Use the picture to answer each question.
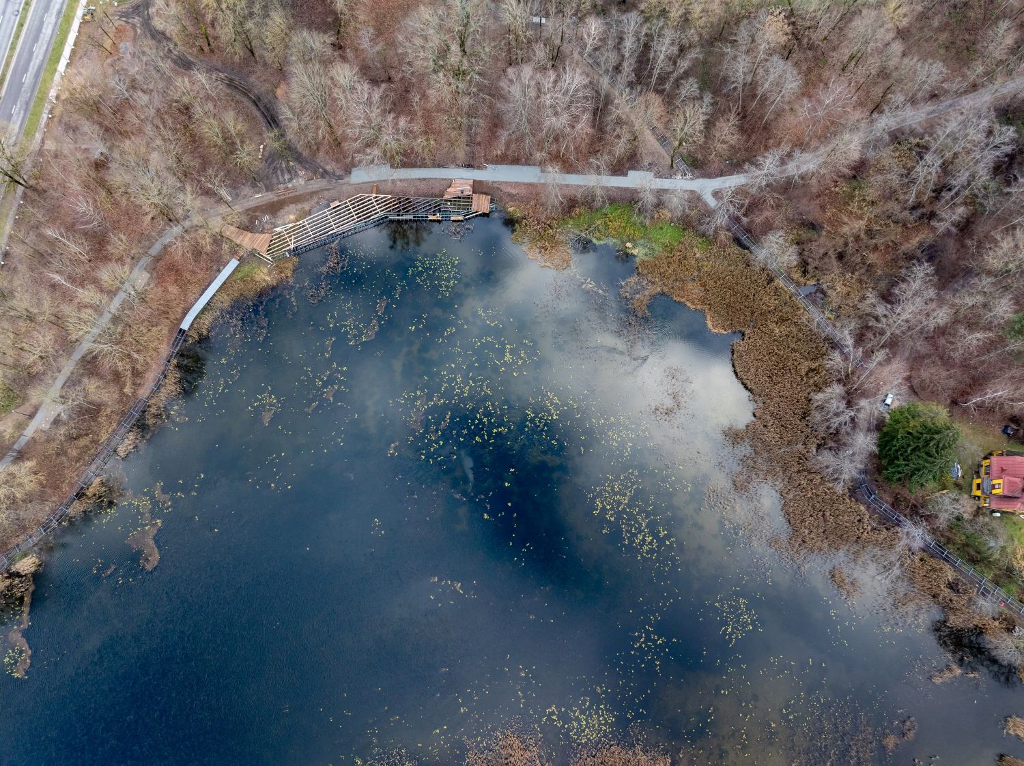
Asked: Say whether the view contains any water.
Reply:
Yes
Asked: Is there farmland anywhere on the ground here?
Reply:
No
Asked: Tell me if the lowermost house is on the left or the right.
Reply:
right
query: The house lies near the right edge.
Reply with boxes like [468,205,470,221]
[970,453,1024,509]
